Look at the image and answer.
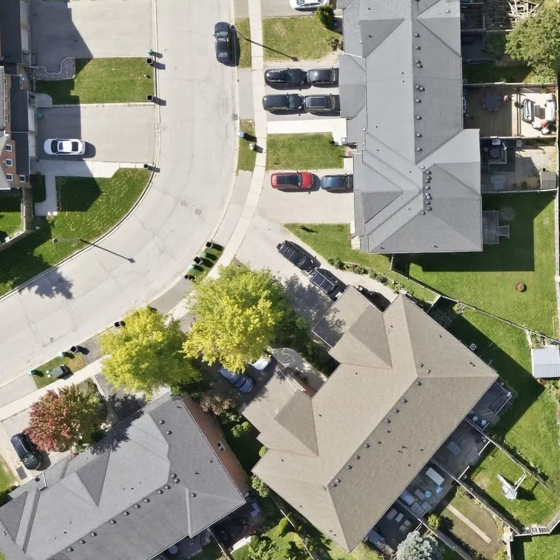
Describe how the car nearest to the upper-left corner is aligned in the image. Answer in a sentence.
The car nearest to the upper-left corner is laid out from left to right.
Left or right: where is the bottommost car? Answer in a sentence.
It is on the left.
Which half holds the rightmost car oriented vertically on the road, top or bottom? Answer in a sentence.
The top half of the photo is where the rightmost car oriented vertically on the road is.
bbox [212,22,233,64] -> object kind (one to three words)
car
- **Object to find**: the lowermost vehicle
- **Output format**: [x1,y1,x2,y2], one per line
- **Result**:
[12,429,44,470]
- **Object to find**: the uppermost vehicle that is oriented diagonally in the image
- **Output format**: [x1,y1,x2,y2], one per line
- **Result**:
[276,238,319,273]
